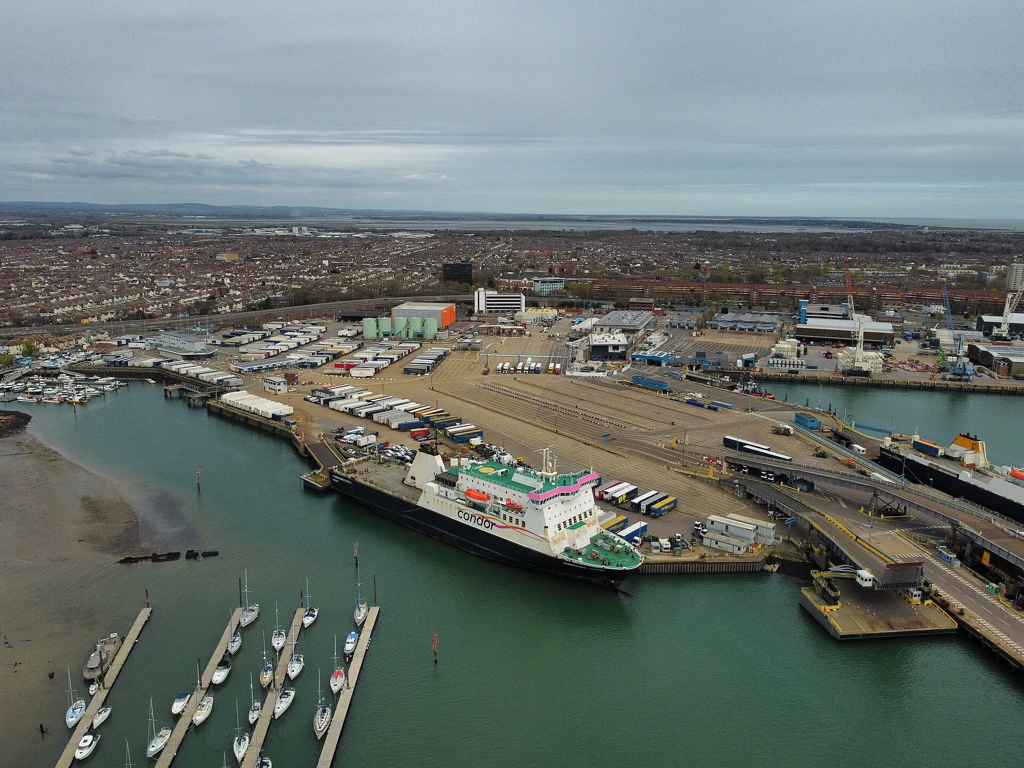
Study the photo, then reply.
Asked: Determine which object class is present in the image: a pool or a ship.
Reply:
ship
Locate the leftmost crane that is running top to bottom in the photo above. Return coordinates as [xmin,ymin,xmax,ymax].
[838,258,878,375]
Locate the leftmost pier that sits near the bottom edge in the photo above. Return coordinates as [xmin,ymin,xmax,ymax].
[59,608,152,768]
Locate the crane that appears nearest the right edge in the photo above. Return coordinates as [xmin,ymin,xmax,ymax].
[990,272,1024,342]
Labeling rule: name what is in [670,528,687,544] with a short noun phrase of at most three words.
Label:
vehicle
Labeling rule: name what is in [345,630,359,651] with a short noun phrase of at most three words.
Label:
boat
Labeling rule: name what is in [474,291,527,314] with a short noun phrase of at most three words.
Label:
building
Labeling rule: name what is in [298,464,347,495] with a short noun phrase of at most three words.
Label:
pier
